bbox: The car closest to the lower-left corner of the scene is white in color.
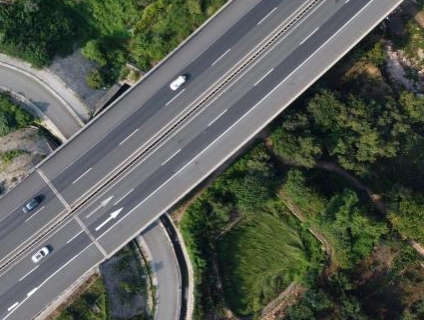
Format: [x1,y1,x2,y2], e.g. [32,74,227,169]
[30,245,49,263]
